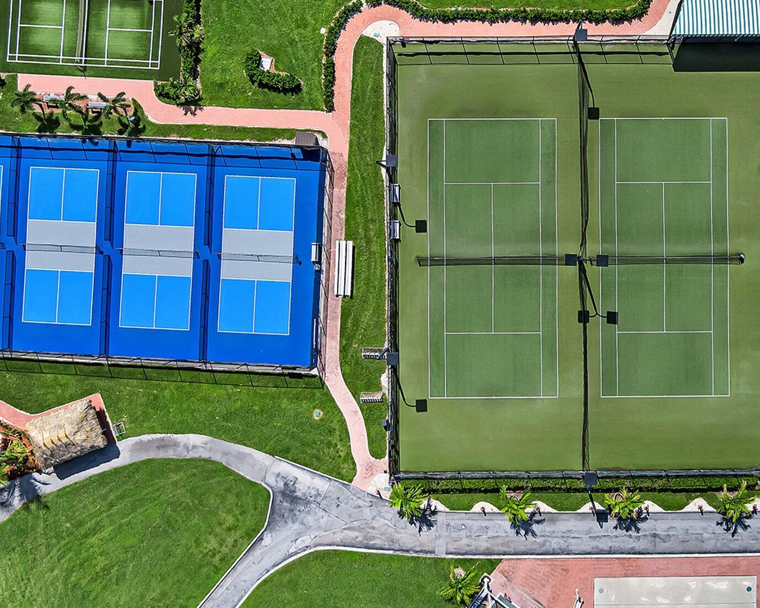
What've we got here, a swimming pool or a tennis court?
tennis court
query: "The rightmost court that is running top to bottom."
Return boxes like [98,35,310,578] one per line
[581,42,760,472]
